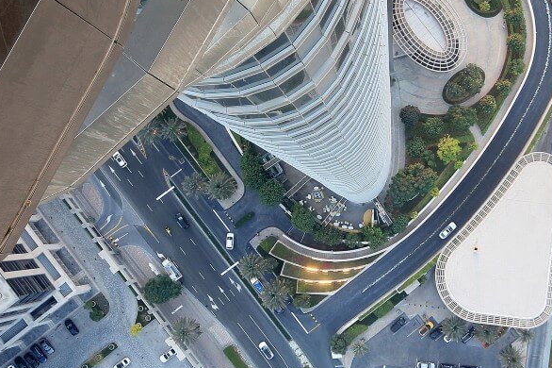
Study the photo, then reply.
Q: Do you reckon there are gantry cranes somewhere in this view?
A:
No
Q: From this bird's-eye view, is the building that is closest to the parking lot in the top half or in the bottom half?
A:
bottom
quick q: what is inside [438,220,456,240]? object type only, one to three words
car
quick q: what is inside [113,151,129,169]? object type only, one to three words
car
